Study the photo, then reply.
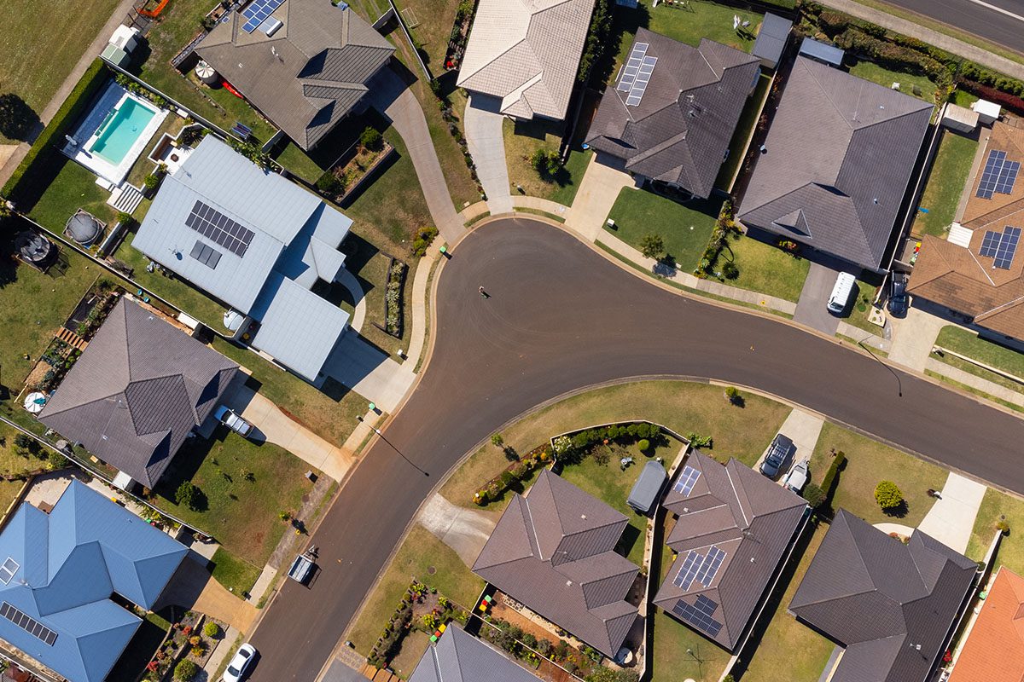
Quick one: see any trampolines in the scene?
Yes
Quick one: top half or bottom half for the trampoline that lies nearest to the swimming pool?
top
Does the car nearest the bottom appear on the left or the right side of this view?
left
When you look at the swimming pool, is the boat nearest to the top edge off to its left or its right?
on the right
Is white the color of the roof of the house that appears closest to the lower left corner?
No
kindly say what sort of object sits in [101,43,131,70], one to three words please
building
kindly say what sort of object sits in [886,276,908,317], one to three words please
vehicle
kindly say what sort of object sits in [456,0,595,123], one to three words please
house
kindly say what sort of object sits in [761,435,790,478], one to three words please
vehicle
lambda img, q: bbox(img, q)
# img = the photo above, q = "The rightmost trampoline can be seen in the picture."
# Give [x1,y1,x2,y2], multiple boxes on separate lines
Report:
[63,207,107,247]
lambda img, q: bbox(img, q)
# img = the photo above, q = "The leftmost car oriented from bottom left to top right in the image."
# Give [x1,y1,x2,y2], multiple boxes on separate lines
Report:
[222,642,259,682]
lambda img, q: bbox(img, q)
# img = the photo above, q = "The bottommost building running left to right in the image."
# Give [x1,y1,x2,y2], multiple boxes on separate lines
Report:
[408,622,551,682]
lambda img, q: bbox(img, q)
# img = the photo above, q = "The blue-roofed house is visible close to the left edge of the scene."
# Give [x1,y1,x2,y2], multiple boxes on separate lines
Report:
[0,479,190,682]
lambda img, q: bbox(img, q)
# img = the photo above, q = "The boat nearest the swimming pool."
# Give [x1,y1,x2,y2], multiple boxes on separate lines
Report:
[219,77,244,99]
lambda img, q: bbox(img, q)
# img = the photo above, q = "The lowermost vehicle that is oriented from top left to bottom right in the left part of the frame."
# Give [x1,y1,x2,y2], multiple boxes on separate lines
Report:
[214,406,258,440]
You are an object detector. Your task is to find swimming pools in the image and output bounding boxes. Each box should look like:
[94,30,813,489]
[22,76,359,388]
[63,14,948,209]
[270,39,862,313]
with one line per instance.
[64,81,170,186]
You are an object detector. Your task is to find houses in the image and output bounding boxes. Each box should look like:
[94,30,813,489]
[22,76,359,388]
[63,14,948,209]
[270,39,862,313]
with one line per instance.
[788,507,980,682]
[456,0,595,123]
[0,479,190,682]
[737,54,934,271]
[652,448,809,651]
[584,26,762,200]
[408,622,551,682]
[131,133,354,381]
[37,296,240,489]
[944,565,1024,682]
[614,0,638,15]
[471,468,641,658]
[194,0,396,152]
[905,121,1024,345]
